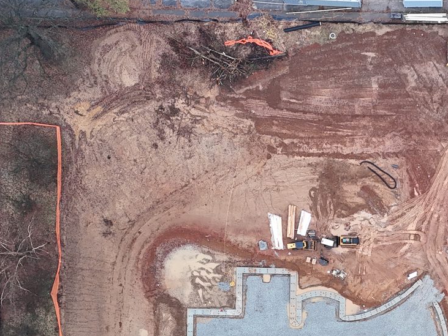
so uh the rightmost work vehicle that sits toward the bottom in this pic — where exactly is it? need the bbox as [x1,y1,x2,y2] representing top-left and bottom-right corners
[335,234,357,247]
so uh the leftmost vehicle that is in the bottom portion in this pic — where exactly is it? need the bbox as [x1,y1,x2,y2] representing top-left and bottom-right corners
[289,239,318,252]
